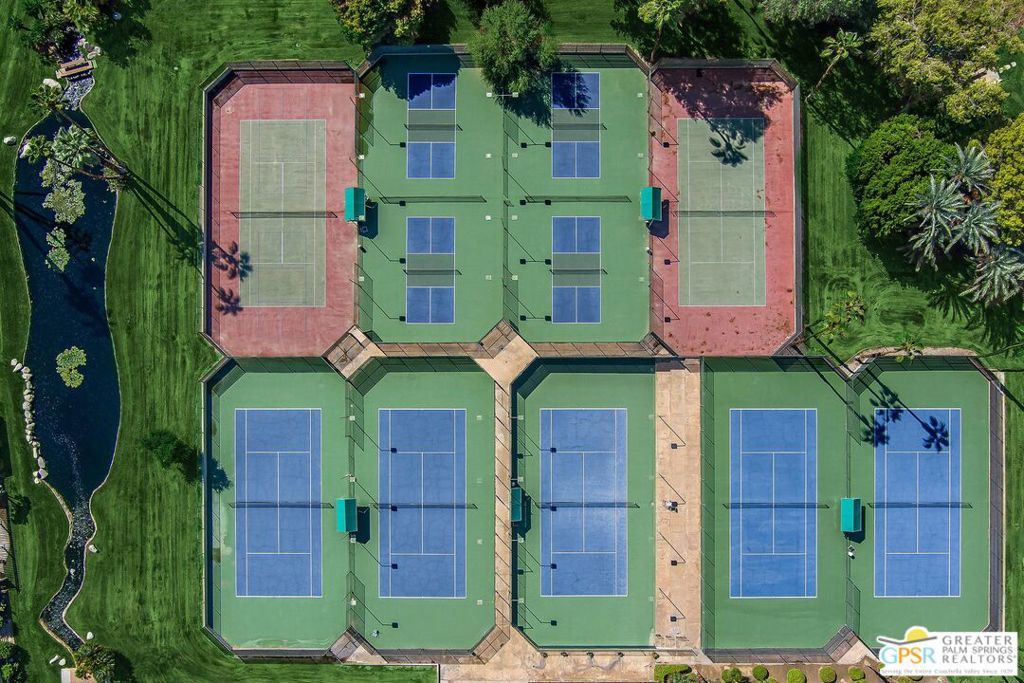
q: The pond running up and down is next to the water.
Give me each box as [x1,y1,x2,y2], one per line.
[13,72,119,658]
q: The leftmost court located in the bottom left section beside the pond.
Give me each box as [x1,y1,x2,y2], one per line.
[206,358,351,650]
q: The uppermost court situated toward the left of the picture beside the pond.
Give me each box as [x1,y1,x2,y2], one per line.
[206,69,358,357]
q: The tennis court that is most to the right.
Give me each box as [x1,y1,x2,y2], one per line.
[847,358,990,650]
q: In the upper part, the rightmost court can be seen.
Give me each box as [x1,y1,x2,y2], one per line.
[652,66,795,356]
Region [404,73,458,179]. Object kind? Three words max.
sports court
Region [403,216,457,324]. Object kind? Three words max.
sports court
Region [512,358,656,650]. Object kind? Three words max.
tennis court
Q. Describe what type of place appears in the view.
sports ground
